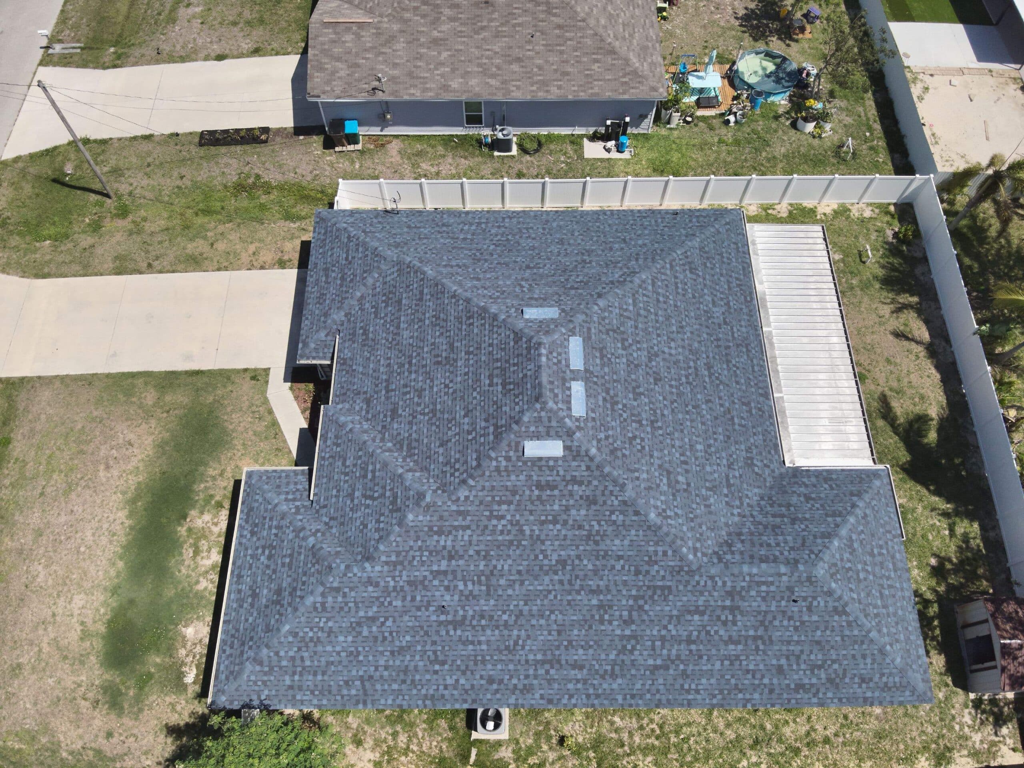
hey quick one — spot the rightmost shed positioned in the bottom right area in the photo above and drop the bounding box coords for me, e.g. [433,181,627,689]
[951,591,1024,699]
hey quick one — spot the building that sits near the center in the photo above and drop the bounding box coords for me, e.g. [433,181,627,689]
[203,193,941,709]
